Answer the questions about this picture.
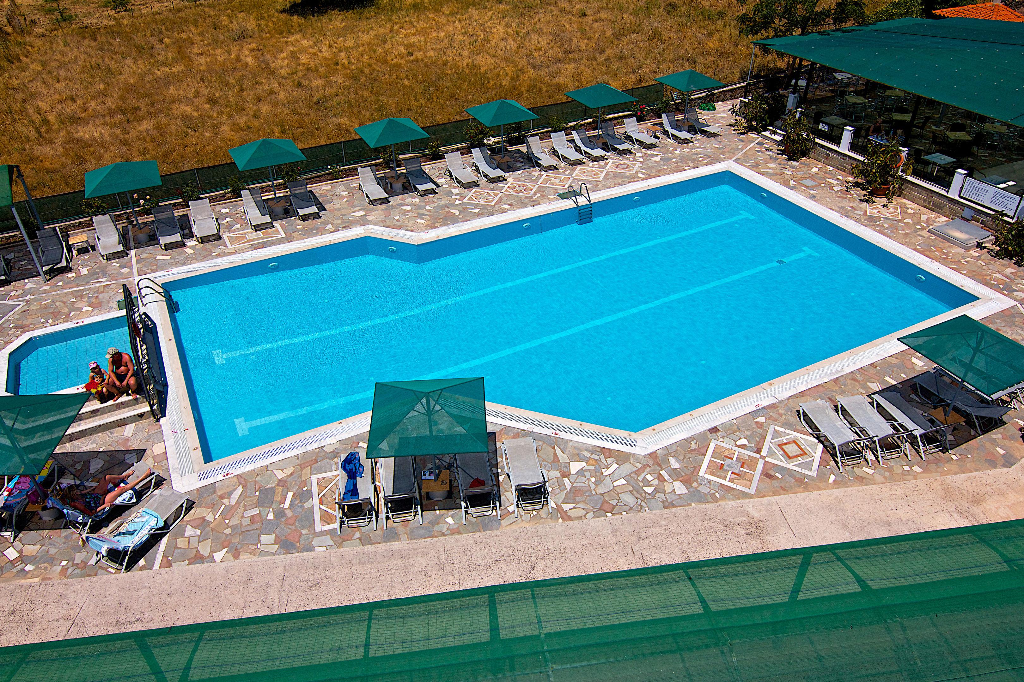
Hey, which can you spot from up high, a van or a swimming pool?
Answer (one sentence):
The one in the frame is a swimming pool.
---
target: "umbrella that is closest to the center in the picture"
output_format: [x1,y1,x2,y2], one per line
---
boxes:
[367,378,489,481]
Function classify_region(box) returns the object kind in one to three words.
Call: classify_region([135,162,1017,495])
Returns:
swimming pool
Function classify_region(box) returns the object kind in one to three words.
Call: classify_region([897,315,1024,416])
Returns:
umbrella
